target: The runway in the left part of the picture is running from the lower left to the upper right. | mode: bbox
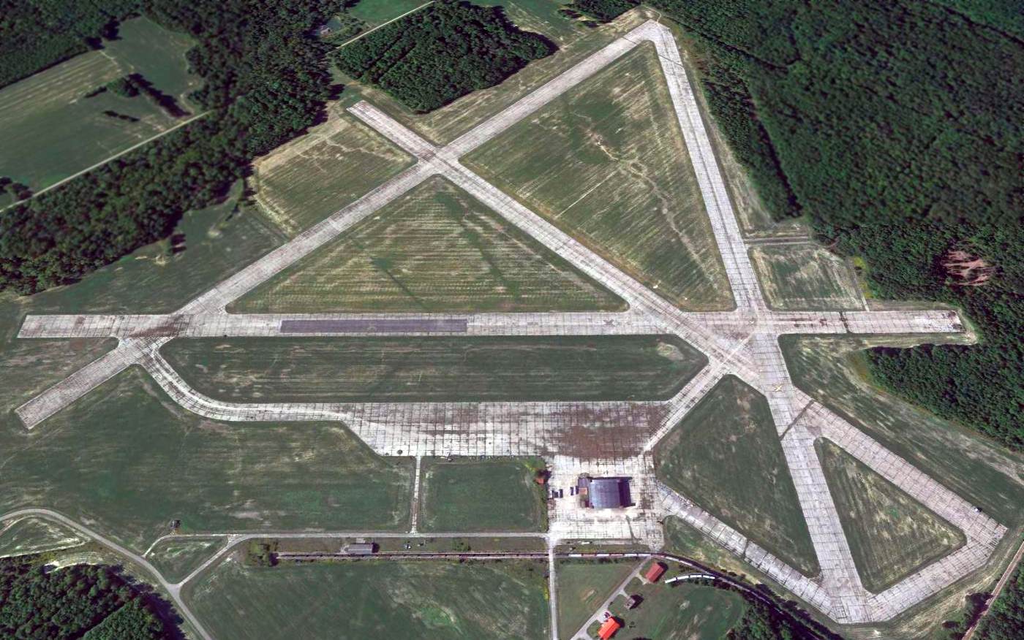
[15,20,652,429]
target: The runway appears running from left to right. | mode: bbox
[18,295,966,349]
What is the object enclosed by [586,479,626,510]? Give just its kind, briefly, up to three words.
hangar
